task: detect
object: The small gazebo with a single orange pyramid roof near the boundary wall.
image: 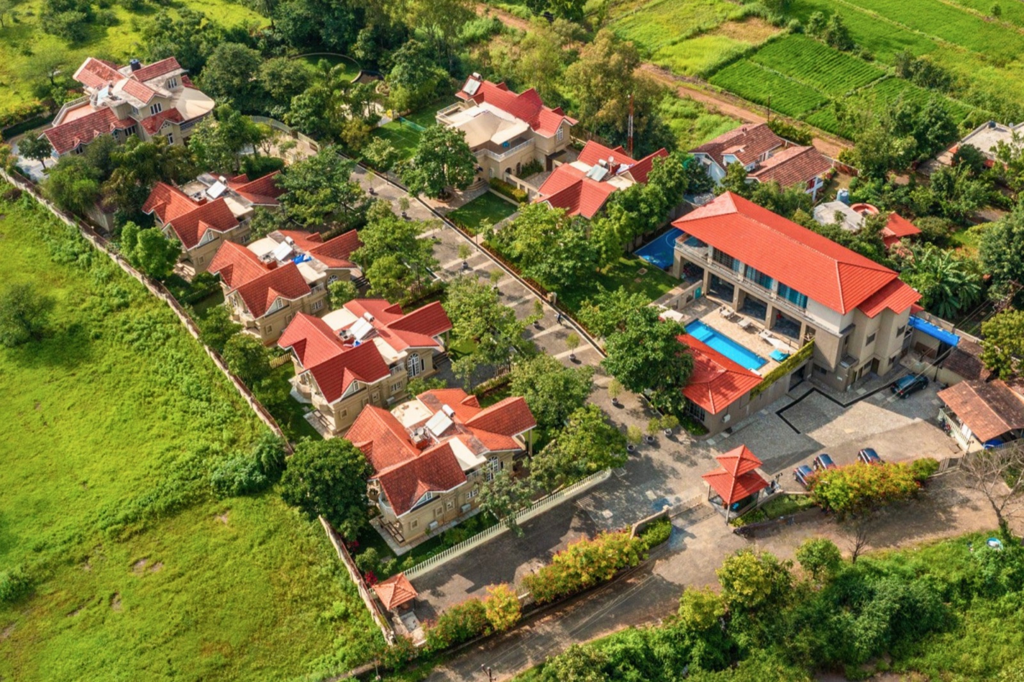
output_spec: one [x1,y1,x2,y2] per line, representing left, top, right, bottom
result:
[371,571,418,623]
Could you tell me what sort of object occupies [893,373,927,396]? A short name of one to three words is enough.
car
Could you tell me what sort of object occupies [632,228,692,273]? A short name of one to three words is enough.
sports court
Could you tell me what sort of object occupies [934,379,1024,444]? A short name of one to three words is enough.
shed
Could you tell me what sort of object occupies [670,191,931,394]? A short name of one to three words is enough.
building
